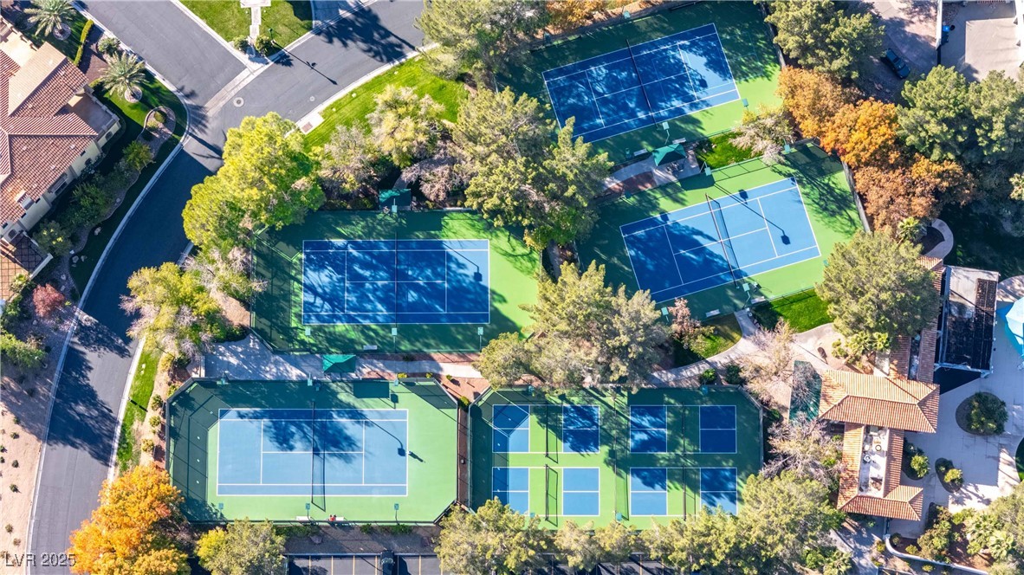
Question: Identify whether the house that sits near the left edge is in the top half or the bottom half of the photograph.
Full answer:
The house that sits near the left edge sits in the top half of the picture.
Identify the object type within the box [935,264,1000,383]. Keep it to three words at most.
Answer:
building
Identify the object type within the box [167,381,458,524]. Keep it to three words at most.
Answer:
tennis court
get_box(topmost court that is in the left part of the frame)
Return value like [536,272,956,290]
[253,213,538,352]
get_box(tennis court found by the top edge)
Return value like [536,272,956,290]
[497,0,783,171]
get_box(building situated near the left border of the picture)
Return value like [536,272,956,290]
[0,5,124,263]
